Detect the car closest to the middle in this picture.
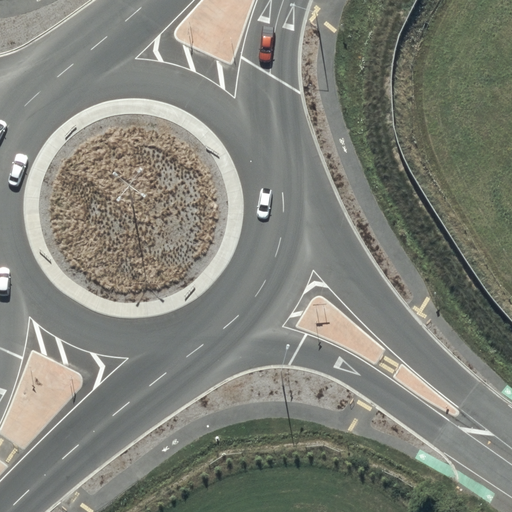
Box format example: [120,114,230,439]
[256,188,274,222]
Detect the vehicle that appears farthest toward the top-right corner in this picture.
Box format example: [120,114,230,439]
[258,27,274,65]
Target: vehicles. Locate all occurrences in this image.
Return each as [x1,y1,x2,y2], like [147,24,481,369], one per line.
[258,27,274,65]
[0,120,7,141]
[0,266,10,299]
[256,188,274,222]
[8,154,27,188]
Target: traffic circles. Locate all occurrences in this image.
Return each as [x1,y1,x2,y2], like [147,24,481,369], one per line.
[24,99,244,318]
